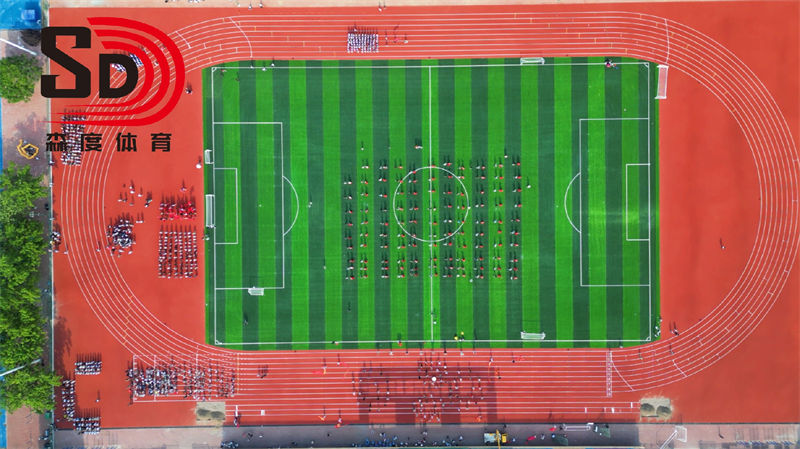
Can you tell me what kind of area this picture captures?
sports ground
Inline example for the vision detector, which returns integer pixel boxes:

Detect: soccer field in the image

[202,56,661,351]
